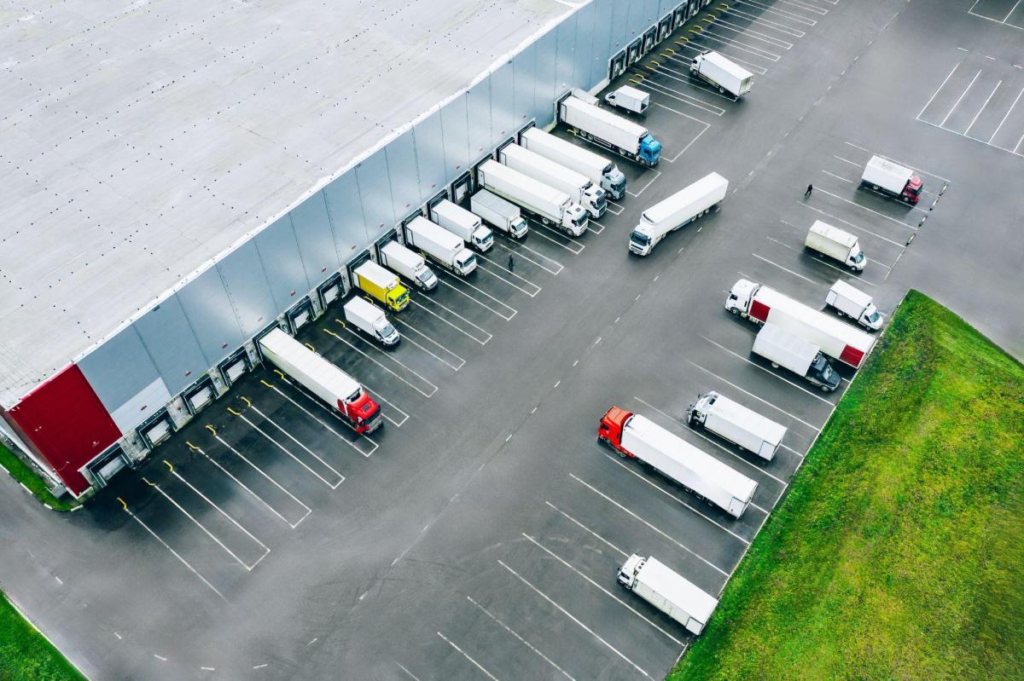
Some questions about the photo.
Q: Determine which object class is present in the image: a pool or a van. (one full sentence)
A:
It is a van that can be seen here.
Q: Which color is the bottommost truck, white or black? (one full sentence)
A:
From above, the bottommost truck appears white.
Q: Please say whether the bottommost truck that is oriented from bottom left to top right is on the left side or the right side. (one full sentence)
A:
You can find the bottommost truck that is oriented from bottom left to top right on the right side of the picture.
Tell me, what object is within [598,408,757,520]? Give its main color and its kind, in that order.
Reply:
white truck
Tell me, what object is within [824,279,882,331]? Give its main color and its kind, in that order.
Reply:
white van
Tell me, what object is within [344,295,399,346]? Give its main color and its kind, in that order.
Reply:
white van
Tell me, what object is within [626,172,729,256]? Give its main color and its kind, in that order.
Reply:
white truck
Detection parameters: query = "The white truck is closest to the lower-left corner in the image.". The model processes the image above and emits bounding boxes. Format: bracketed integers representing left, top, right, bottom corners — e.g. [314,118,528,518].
[258,326,386,432]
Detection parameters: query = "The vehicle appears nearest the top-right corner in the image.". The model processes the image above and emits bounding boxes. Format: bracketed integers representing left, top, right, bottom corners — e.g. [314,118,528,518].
[860,155,925,203]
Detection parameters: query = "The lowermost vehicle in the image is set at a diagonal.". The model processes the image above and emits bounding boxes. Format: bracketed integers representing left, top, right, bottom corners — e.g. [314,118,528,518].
[613,550,719,636]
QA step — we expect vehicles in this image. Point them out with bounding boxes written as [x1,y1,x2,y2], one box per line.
[824,279,882,331]
[626,172,729,256]
[598,408,757,520]
[379,240,438,292]
[406,216,479,276]
[688,394,787,463]
[560,96,665,165]
[352,259,413,313]
[431,198,496,252]
[344,295,399,346]
[258,326,386,432]
[690,52,753,100]
[725,282,874,371]
[522,125,630,197]
[750,321,839,391]
[478,159,590,235]
[803,220,865,272]
[860,155,925,203]
[605,85,650,117]
[470,189,531,240]
[613,550,719,636]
